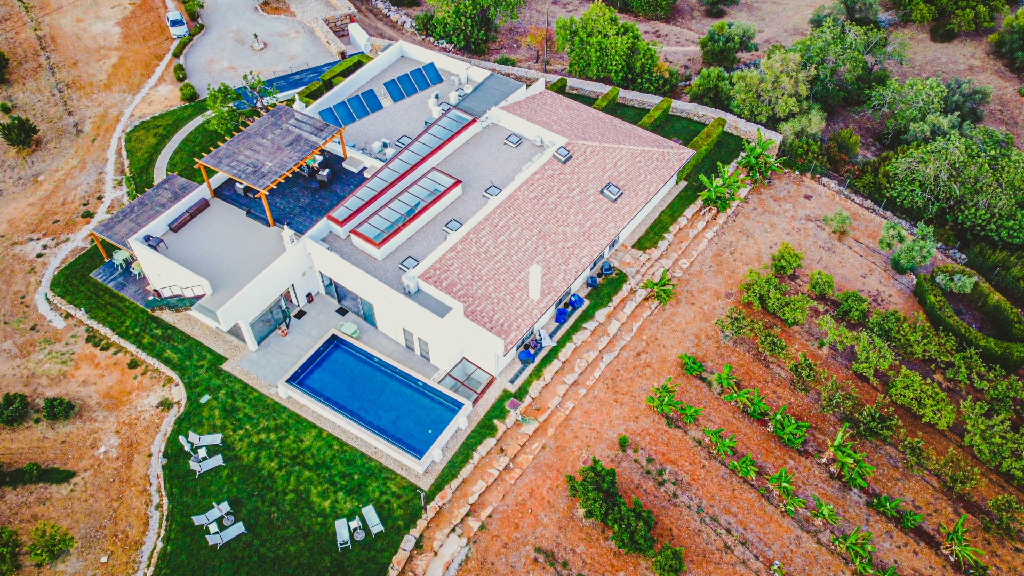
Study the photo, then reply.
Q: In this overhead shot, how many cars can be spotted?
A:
1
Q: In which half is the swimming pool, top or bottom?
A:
bottom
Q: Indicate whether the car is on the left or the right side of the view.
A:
left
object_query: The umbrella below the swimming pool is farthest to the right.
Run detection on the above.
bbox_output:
[354,517,366,540]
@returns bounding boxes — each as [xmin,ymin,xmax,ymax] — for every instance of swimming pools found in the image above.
[277,329,472,473]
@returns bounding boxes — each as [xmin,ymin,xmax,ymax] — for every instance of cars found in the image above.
[162,7,190,36]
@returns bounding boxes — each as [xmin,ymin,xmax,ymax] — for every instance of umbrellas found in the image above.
[180,441,202,460]
[215,504,235,526]
[354,517,366,540]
